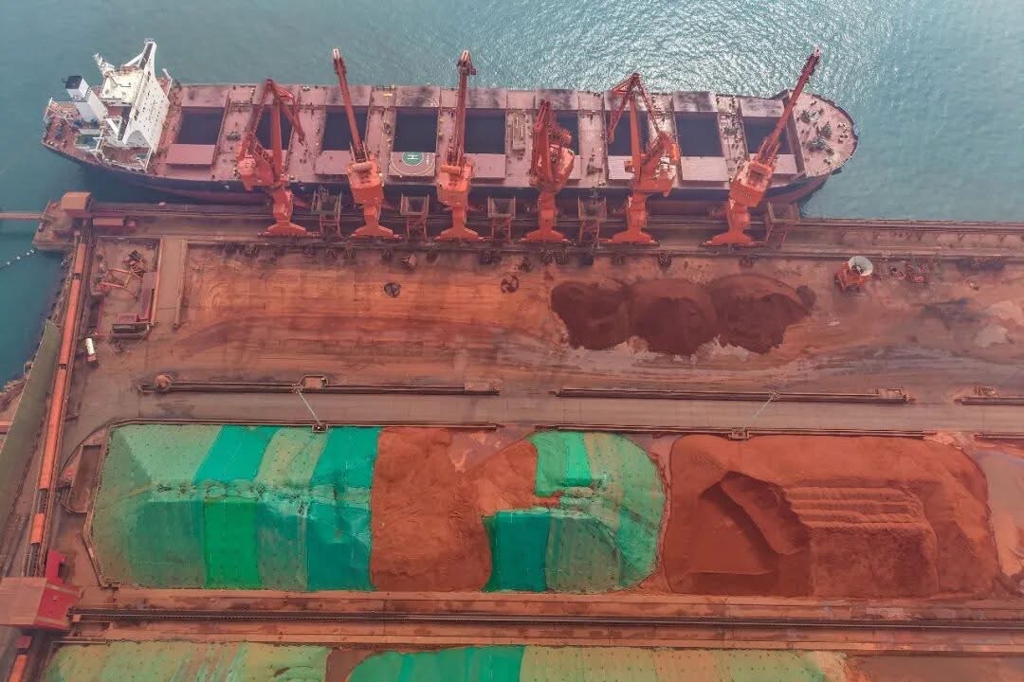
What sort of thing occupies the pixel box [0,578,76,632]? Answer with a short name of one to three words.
house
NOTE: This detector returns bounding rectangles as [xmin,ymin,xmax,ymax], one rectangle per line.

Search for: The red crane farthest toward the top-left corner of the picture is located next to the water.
[220,76,312,236]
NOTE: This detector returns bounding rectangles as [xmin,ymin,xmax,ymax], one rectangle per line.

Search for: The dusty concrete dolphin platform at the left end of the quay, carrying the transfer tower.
[30,202,90,252]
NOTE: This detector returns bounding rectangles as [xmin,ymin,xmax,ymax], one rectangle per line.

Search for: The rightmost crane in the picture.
[702,51,822,246]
